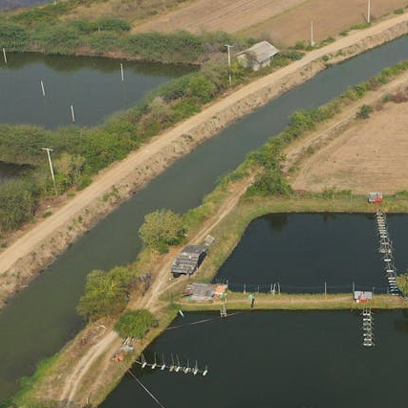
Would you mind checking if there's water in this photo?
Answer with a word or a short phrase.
Yes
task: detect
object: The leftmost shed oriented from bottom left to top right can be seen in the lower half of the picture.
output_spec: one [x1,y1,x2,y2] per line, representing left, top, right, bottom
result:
[162,243,209,281]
